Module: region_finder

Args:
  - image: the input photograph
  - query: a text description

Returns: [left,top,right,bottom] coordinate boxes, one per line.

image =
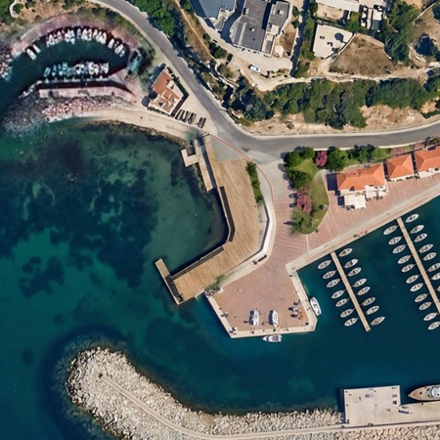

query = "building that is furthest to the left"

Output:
[148,70,183,115]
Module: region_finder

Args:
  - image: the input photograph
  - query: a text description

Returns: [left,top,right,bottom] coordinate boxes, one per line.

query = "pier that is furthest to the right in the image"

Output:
[398,218,440,313]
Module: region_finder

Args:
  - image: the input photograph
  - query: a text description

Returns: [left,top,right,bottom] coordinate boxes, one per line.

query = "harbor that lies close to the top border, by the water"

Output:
[18,14,140,102]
